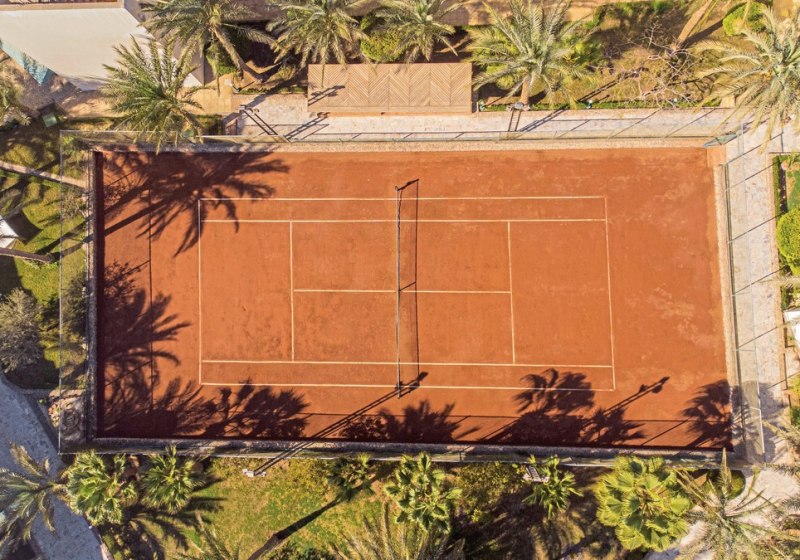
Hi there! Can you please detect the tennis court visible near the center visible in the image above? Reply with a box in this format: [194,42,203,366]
[97,144,734,449]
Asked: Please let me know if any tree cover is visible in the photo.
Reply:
Yes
